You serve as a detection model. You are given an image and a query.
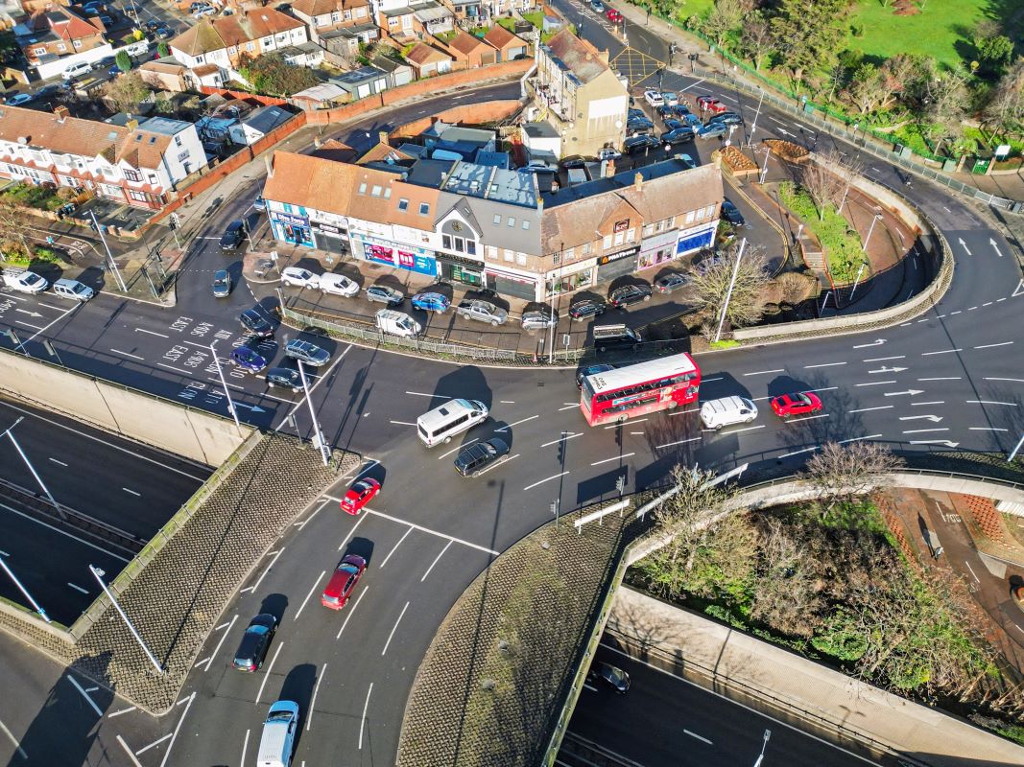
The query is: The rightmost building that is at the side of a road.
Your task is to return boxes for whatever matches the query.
[647,151,730,258]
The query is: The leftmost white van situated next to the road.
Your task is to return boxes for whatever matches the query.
[2,266,44,294]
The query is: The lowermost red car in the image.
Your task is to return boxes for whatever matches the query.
[319,556,368,613]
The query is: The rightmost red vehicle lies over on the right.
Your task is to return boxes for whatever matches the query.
[769,391,820,419]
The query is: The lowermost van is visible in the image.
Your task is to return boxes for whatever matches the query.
[255,702,301,767]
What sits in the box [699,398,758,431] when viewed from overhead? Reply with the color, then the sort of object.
white van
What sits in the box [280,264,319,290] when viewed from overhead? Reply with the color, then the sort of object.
white car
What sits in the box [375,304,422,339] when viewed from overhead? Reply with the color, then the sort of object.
white van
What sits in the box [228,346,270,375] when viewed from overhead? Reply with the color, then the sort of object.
blue car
